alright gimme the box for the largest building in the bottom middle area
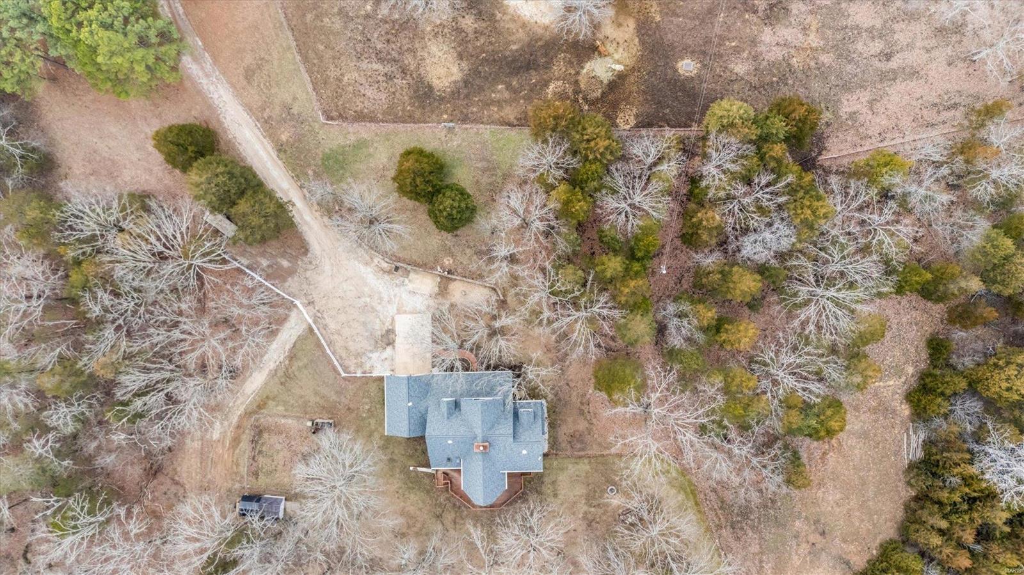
[384,371,546,510]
